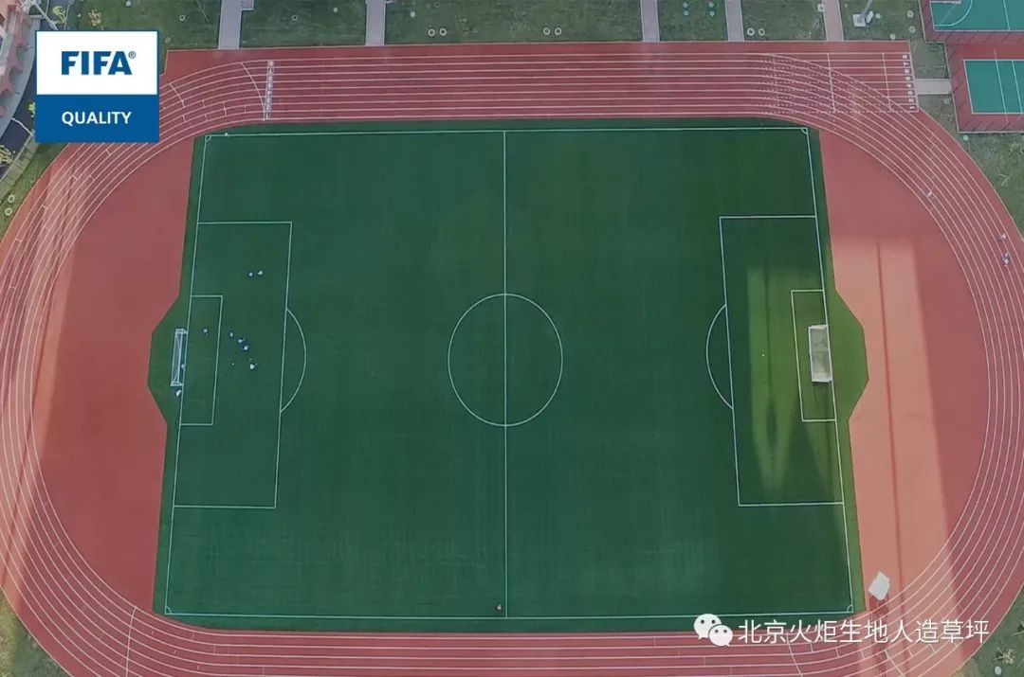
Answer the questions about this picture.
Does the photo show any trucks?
No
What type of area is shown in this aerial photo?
sports ground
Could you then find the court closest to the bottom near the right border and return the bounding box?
[944,42,1024,132]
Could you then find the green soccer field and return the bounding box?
[147,117,868,633]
